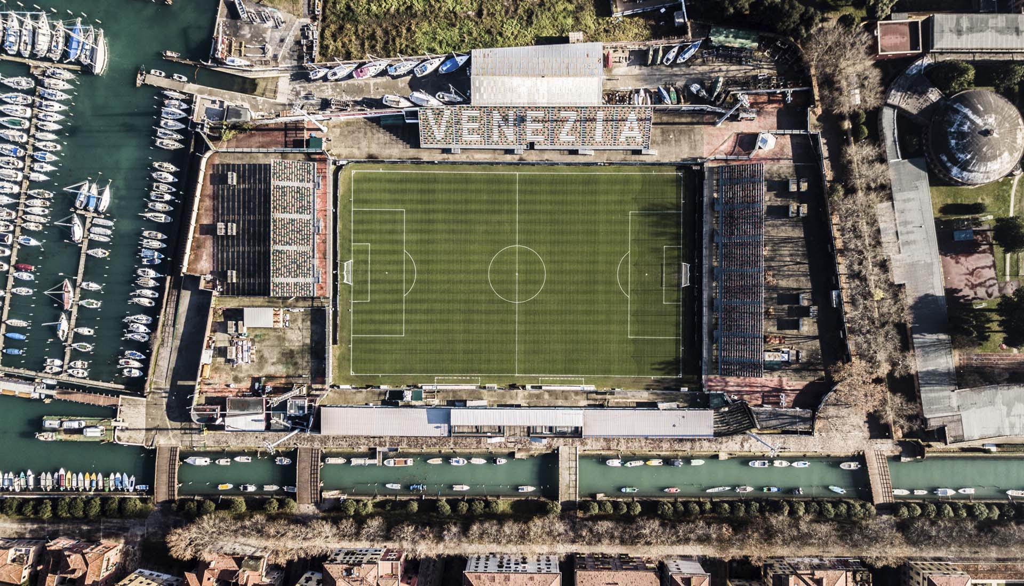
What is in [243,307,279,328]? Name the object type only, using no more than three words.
shed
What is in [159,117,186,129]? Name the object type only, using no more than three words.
boat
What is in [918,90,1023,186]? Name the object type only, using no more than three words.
building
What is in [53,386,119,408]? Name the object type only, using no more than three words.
pier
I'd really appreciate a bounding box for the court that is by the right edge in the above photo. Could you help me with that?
[940,225,998,304]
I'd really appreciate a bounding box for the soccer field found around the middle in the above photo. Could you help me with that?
[333,163,702,388]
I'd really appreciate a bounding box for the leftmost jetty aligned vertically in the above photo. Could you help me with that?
[0,73,40,378]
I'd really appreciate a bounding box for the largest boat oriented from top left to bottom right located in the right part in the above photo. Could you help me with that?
[688,83,711,102]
